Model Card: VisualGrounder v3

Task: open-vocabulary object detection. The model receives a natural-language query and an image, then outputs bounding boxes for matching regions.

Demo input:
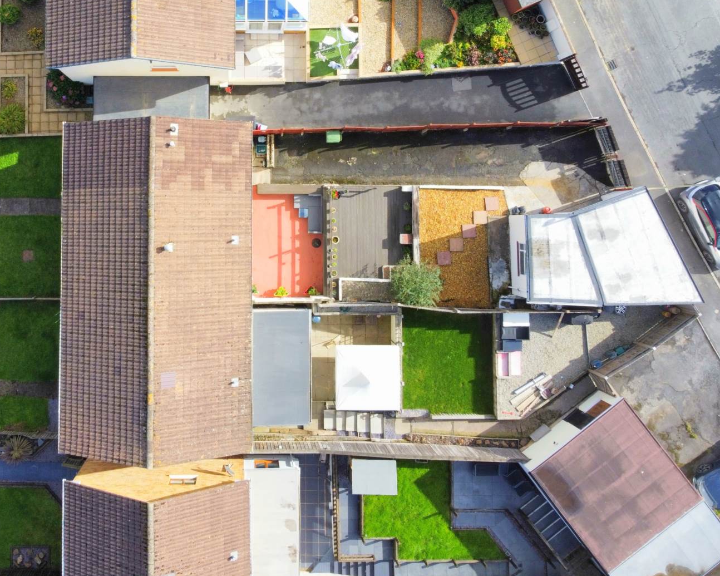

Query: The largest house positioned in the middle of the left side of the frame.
[56,116,256,470]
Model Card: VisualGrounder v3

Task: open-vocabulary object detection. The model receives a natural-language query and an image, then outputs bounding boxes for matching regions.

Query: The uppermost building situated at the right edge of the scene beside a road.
[506,188,703,307]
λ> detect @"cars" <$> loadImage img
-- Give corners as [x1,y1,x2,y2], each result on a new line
[673,184,720,269]
[694,457,720,510]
